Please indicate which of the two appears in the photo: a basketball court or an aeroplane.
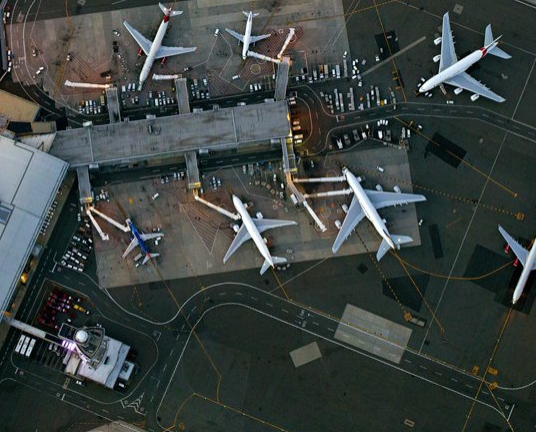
aeroplane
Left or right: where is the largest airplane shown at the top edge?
right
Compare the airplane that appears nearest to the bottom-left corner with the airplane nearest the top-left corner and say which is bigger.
the airplane nearest the top-left corner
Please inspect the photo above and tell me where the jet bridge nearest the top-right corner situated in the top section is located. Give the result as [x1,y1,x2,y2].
[277,27,295,61]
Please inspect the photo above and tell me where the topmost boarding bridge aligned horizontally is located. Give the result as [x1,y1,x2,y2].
[246,51,282,65]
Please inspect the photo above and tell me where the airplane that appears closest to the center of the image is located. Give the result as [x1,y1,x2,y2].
[224,195,297,274]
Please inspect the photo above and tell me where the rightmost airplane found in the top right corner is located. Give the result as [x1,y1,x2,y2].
[419,16,512,104]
